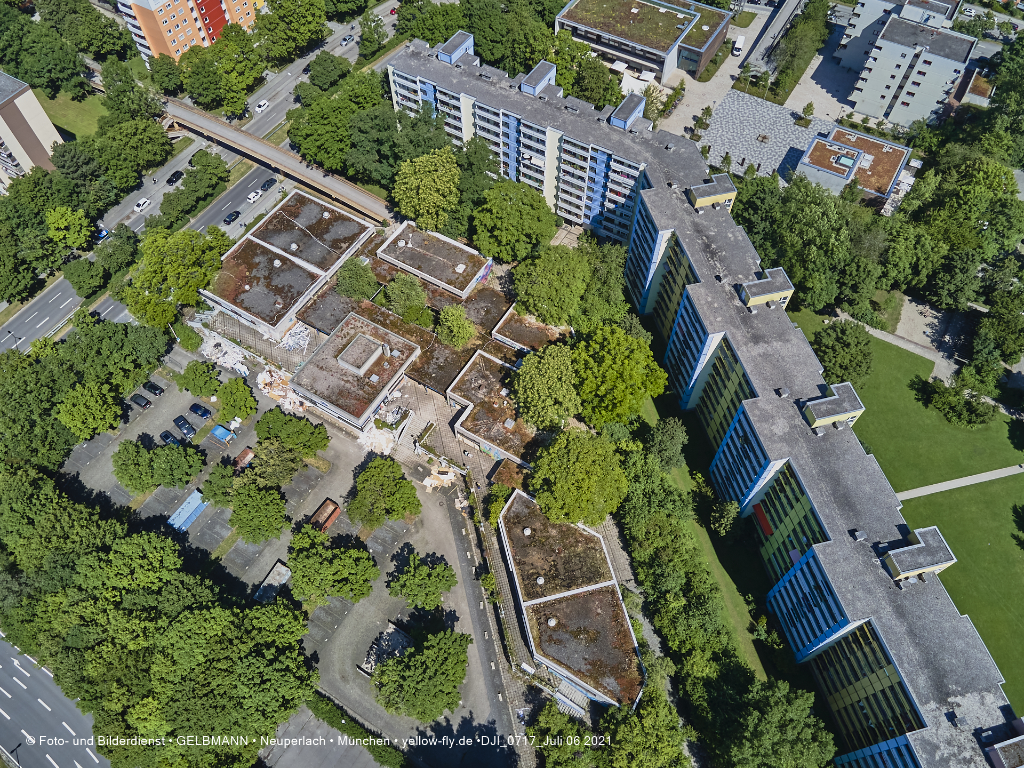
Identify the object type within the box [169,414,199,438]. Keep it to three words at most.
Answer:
truck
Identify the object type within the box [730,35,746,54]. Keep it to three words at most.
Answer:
vehicle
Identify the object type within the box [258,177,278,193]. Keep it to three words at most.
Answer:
car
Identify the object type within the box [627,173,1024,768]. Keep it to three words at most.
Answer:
building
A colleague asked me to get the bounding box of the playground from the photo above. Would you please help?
[896,295,982,352]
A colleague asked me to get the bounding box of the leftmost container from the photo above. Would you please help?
[168,490,215,536]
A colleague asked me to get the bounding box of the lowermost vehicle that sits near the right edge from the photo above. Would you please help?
[972,52,990,64]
